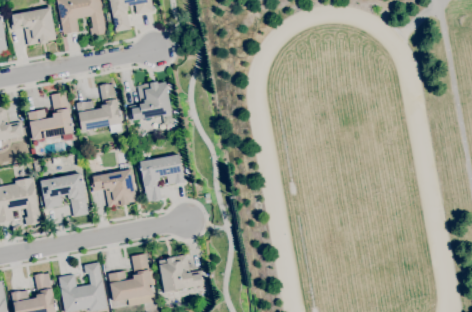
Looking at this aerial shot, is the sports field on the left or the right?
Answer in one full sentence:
The sports field is on the right side of the image.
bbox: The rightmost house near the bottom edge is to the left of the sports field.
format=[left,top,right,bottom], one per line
[158,260,205,301]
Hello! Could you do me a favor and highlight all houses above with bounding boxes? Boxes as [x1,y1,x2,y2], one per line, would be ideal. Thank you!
[56,0,104,36]
[106,253,158,312]
[0,106,24,142]
[132,80,174,130]
[140,155,184,202]
[158,260,205,301]
[0,280,8,312]
[27,93,74,154]
[0,176,40,226]
[11,6,54,44]
[110,0,154,30]
[10,272,56,312]
[90,170,136,208]
[40,174,86,218]
[58,262,106,312]
[76,82,122,134]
